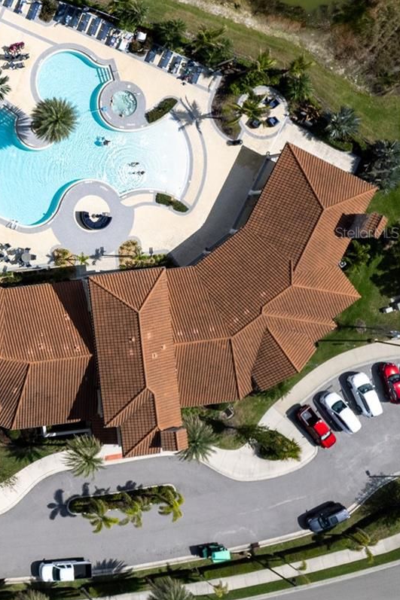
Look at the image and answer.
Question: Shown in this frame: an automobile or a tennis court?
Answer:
automobile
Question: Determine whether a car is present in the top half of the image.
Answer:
No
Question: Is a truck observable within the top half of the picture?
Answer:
No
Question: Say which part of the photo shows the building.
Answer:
center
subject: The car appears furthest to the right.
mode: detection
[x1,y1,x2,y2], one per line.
[382,360,400,404]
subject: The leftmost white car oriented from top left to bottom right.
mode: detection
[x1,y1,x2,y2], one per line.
[326,392,364,434]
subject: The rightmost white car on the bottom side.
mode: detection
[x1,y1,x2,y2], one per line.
[351,374,386,418]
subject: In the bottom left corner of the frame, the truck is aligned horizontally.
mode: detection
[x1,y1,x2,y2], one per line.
[41,561,94,586]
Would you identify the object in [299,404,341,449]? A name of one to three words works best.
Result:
truck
